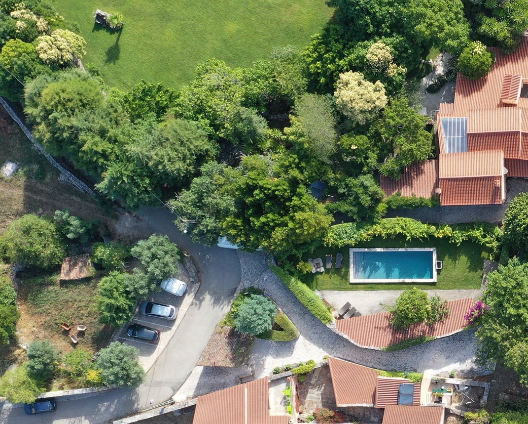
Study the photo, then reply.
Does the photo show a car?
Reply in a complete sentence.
Yes, a car appears in the view.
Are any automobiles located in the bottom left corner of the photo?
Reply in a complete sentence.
Yes, an automobile can be seen in the bottom left corner of the photo.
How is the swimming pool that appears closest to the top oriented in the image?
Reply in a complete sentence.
The swimming pool that appears closest to the top has been laid out from left to right relative to the frame.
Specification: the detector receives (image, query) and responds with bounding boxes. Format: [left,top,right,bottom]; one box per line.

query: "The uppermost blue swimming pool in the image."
[350,248,442,284]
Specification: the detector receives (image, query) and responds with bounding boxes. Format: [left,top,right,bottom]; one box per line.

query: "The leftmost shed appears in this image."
[61,253,101,279]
